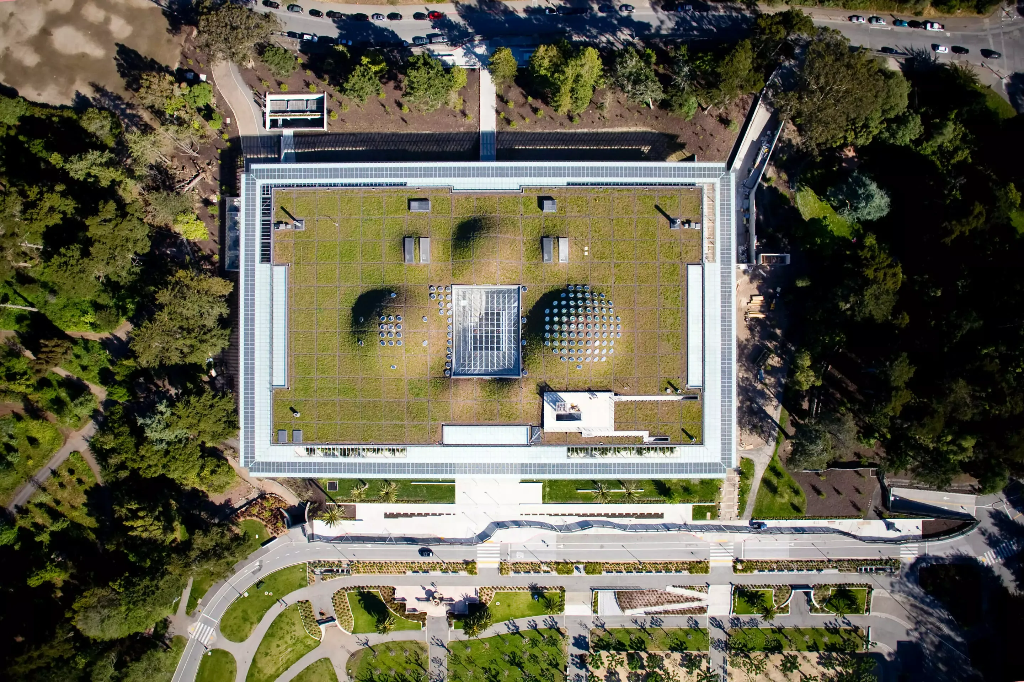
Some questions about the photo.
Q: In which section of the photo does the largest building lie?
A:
center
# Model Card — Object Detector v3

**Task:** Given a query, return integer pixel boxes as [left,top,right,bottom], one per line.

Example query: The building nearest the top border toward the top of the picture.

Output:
[262,91,329,133]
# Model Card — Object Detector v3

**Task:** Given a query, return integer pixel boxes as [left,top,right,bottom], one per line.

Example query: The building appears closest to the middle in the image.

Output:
[241,163,735,478]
